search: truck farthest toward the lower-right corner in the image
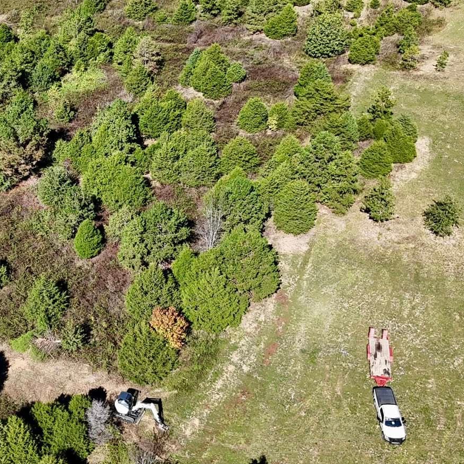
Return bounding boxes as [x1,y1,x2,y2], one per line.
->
[370,386,407,447]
